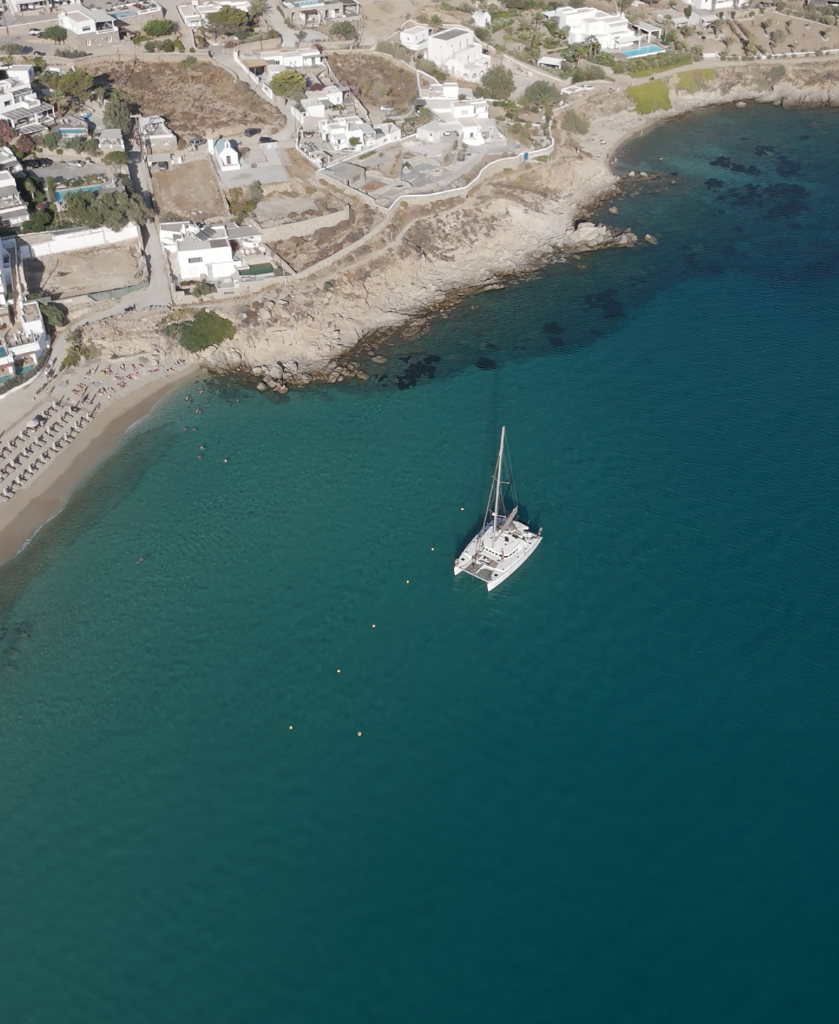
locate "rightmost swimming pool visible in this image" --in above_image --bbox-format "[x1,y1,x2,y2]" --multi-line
[620,45,667,57]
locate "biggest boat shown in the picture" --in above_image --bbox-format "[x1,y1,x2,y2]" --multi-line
[455,431,546,601]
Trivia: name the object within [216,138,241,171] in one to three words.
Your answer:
building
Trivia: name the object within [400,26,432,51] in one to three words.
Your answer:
house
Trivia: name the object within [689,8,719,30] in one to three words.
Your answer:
house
